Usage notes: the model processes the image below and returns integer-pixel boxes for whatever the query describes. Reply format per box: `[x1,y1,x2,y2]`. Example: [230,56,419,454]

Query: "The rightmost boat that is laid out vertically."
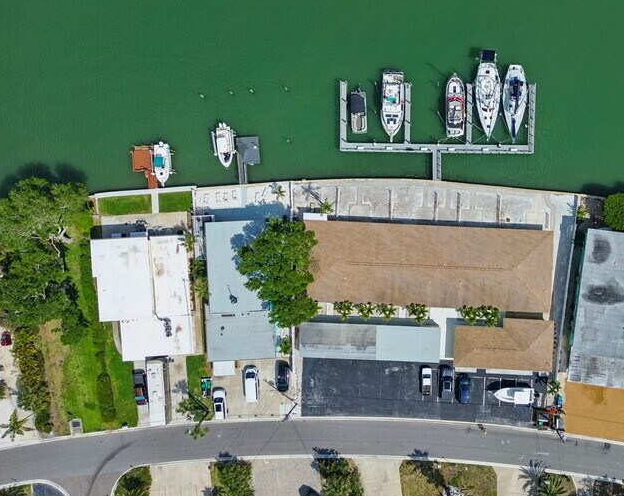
[503,65,531,143]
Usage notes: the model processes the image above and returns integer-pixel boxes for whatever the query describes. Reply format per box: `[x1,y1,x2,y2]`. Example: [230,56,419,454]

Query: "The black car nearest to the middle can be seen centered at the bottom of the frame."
[274,360,290,392]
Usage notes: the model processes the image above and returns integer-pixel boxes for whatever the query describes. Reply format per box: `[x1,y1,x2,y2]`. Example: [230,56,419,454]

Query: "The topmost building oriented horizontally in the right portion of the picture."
[303,221,553,313]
